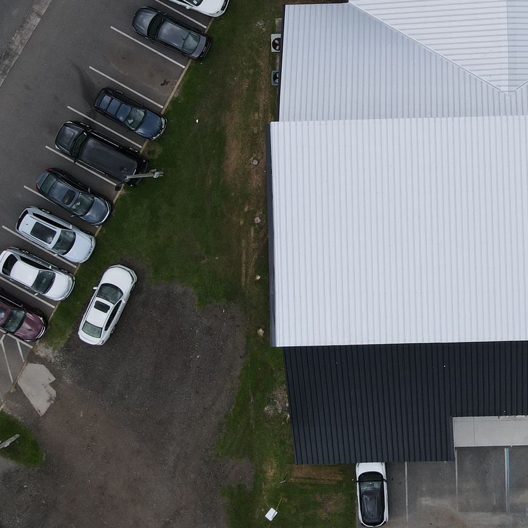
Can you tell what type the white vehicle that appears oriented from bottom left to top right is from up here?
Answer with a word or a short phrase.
car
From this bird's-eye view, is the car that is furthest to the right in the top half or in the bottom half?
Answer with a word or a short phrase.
bottom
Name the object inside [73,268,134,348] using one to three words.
car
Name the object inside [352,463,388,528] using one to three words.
car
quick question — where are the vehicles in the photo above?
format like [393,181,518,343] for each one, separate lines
[46,121,144,188]
[6,207,90,265]
[0,295,42,342]
[26,169,109,226]
[73,268,134,348]
[352,463,388,528]
[82,85,164,141]
[129,3,208,61]
[0,246,69,304]
[172,0,226,18]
